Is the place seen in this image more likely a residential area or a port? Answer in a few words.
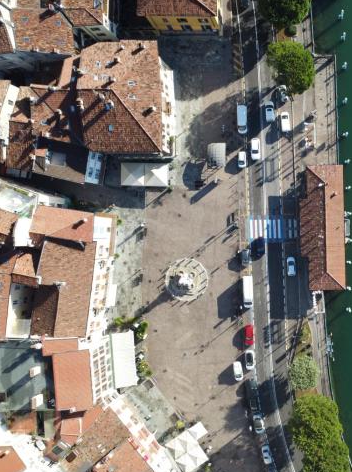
residential area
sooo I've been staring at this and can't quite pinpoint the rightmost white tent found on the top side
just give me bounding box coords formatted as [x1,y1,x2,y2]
[146,163,173,189]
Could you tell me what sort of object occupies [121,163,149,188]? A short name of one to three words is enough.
tent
